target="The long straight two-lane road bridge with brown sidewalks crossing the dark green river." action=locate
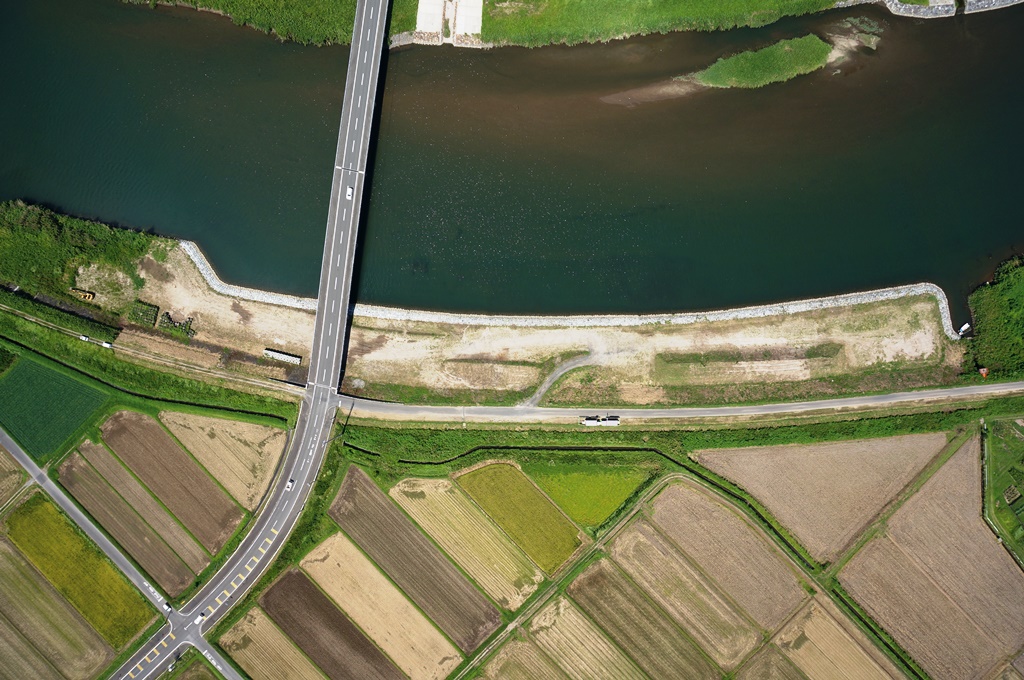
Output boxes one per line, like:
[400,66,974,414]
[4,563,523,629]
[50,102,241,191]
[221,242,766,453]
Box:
[305,0,390,394]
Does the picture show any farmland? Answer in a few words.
Yes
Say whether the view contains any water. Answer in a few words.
Yes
